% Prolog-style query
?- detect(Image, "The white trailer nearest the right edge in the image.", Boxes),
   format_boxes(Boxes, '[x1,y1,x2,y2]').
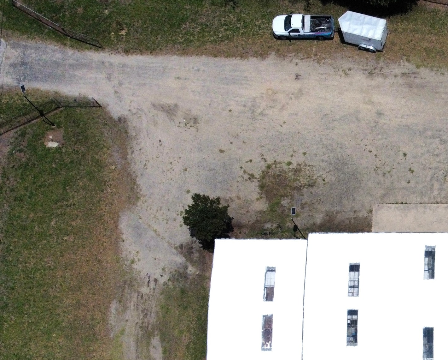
[337,11,389,50]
